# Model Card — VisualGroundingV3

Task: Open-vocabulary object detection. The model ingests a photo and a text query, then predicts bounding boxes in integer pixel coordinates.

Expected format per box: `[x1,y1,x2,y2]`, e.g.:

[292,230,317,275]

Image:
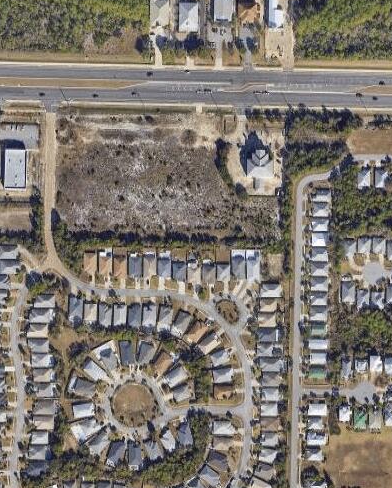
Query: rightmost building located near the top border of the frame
[268,0,283,27]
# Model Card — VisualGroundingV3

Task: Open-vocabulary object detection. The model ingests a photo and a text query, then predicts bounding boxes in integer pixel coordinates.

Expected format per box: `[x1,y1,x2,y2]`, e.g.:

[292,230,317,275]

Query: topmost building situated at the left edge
[5,149,25,188]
